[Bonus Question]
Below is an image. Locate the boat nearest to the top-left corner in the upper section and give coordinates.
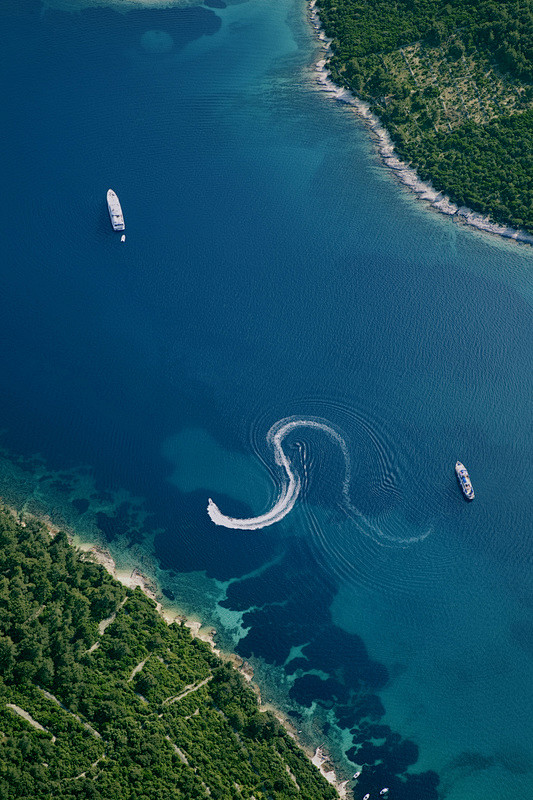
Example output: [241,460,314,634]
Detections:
[107,188,124,234]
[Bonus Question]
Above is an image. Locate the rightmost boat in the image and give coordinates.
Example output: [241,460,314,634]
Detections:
[456,460,475,502]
